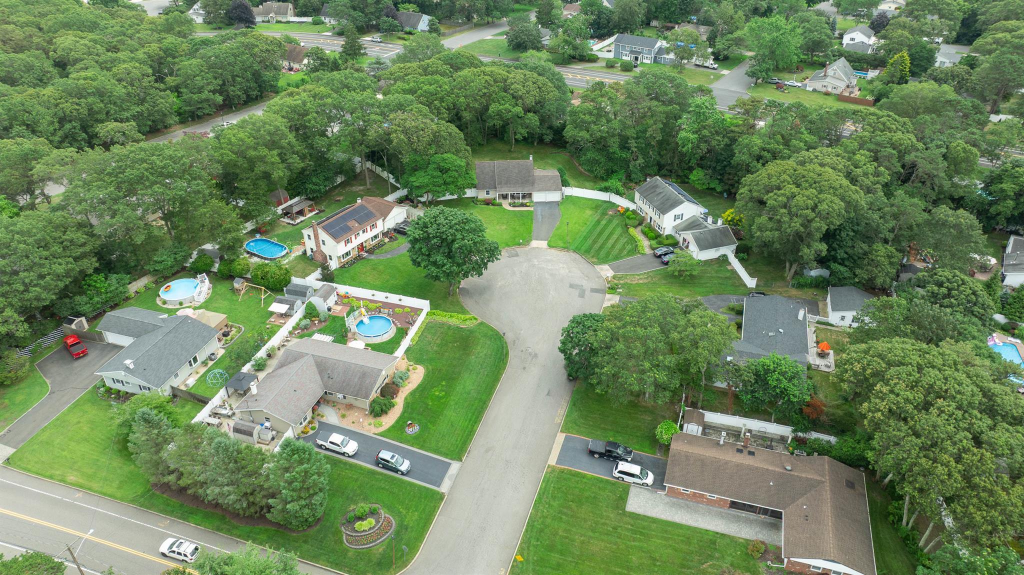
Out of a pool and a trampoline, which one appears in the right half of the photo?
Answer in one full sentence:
Looking in the right half of the photo, you will find a pool.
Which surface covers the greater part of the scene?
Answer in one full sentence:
For the most part, this view shows trees.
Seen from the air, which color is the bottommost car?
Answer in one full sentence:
In this view, the bottommost car is white.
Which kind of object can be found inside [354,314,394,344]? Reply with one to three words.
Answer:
swimming pool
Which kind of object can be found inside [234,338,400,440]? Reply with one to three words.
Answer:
house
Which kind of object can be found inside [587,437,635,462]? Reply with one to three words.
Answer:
truck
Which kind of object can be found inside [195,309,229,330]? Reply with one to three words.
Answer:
tent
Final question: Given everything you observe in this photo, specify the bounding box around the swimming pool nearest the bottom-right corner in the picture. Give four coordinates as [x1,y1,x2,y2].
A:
[989,342,1024,371]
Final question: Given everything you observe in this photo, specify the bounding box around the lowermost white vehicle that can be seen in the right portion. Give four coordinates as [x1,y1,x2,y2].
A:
[610,459,656,488]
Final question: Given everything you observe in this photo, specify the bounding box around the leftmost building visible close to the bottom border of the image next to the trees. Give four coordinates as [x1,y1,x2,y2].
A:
[666,434,878,575]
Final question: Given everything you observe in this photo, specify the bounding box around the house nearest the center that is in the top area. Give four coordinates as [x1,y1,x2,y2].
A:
[475,152,563,201]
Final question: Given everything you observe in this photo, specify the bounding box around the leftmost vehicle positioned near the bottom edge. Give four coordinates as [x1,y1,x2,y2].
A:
[155,536,204,564]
